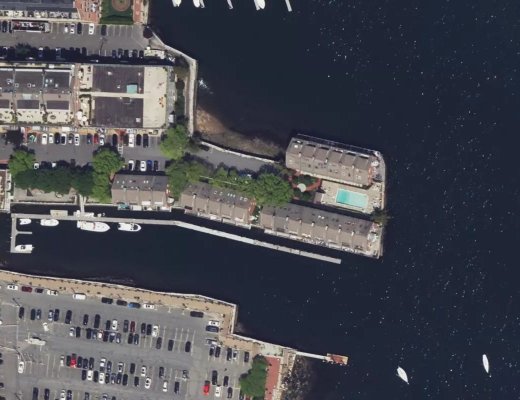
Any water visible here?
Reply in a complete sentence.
Yes, there is water in the image.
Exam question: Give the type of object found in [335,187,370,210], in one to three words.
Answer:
swimming pool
